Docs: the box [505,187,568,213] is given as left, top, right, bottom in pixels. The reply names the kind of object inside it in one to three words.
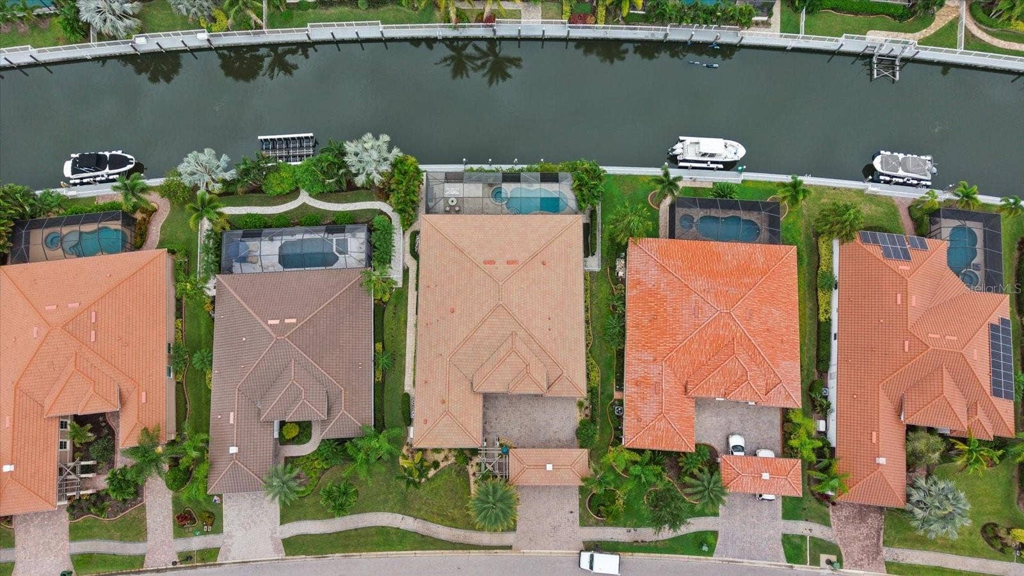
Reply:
swimming pool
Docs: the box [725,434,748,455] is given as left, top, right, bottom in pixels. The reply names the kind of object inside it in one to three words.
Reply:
car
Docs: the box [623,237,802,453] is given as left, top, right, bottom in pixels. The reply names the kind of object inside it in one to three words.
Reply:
house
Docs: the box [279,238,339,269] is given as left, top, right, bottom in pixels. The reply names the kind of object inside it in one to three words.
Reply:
swimming pool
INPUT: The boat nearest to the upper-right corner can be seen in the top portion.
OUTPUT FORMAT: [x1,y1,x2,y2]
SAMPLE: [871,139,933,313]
[872,155,936,185]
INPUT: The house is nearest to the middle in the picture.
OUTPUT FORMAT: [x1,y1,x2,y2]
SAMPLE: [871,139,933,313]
[413,213,588,448]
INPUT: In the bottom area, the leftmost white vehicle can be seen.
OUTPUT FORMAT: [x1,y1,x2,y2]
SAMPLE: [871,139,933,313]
[577,548,622,575]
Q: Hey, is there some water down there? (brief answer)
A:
Yes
